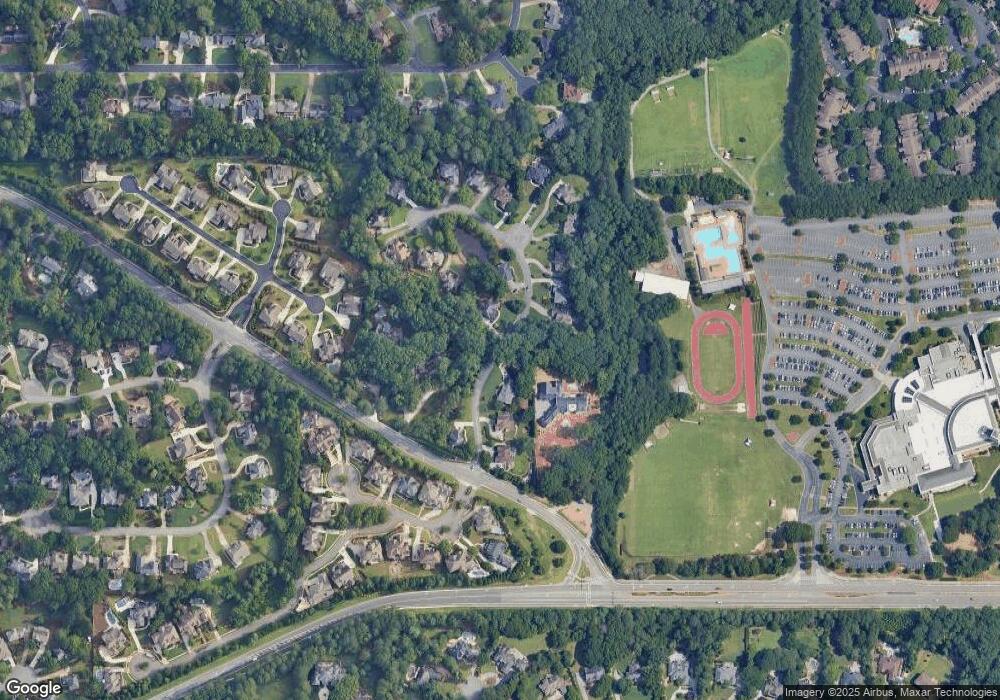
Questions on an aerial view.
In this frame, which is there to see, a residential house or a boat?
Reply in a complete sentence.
Of the two, only a residential house appears.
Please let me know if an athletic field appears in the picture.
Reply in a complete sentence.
Yes, the image includes an athletic field.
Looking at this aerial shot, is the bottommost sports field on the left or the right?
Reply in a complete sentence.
You can find the bottommost sports field on the right side of the picture.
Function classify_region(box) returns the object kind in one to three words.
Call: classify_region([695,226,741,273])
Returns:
swimming pool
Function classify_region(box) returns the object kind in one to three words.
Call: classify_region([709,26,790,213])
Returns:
sports field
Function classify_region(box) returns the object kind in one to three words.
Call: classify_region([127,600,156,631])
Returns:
house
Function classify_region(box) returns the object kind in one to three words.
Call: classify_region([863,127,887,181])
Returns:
building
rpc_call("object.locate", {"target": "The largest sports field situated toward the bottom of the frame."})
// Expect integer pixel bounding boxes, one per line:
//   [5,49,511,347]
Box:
[619,419,803,555]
